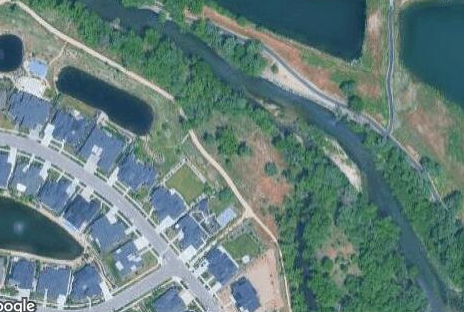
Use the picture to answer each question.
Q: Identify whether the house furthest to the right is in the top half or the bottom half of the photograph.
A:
bottom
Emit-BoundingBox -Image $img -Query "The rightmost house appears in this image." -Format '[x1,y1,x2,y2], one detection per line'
[228,278,264,312]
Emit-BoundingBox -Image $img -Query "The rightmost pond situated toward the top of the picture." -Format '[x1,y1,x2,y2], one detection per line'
[56,66,153,134]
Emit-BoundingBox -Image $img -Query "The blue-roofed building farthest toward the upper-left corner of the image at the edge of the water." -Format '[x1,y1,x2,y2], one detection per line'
[11,90,55,130]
